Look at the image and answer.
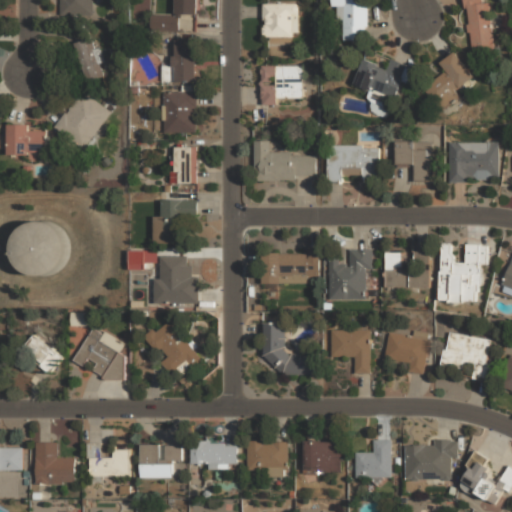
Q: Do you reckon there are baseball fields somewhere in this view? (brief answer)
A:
No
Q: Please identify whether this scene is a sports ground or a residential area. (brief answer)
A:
residential area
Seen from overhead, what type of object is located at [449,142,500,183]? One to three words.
house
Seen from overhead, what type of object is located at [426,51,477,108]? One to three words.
house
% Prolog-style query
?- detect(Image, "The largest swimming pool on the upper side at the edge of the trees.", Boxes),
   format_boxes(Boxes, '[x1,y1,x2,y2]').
[342,96,370,115]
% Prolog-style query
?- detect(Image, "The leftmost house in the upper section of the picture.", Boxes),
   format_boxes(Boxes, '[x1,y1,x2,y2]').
[6,124,48,162]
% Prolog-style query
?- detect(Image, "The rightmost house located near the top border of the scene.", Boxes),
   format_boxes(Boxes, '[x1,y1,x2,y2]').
[462,0,498,50]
